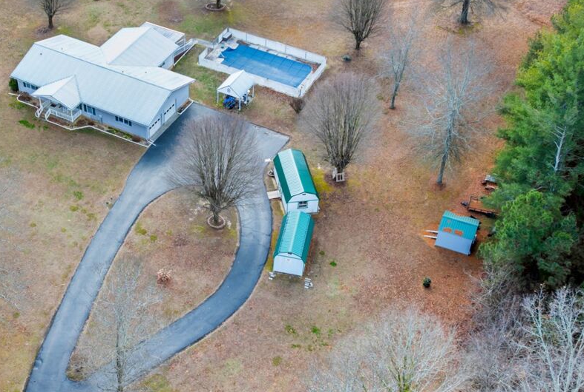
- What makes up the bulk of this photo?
grass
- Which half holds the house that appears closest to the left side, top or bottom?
top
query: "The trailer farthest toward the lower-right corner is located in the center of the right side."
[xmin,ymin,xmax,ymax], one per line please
[457,193,511,224]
